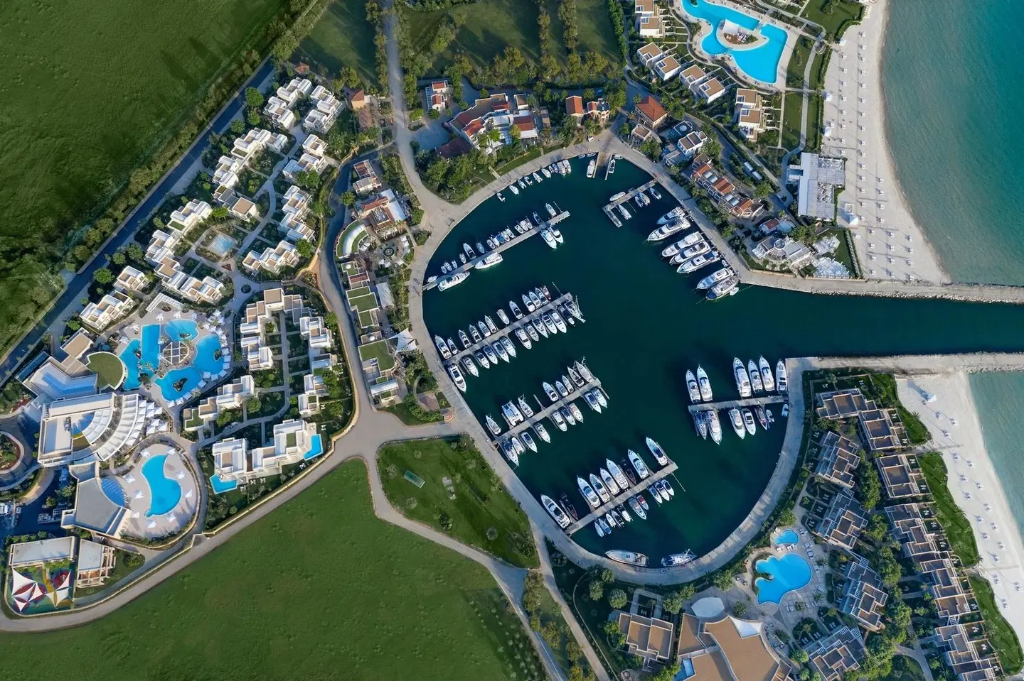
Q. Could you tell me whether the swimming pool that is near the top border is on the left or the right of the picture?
right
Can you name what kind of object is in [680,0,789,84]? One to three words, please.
swimming pool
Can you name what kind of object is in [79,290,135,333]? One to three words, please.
house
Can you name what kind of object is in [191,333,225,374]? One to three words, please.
swimming pool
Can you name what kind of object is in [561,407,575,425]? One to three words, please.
boat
